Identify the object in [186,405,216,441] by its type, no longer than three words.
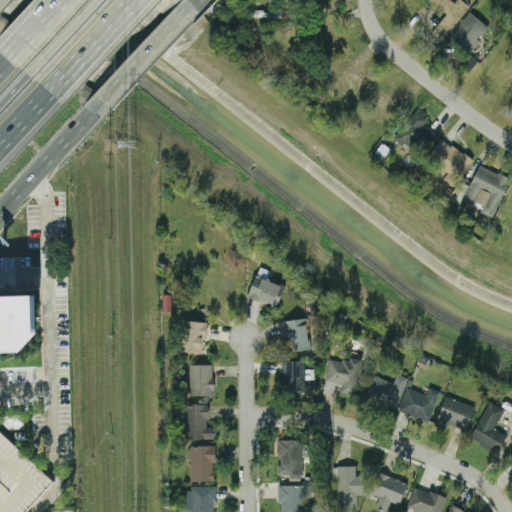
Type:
house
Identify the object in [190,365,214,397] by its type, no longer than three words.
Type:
house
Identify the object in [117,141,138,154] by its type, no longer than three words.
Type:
pylon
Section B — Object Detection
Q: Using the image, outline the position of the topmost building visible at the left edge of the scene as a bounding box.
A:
[0,294,40,354]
